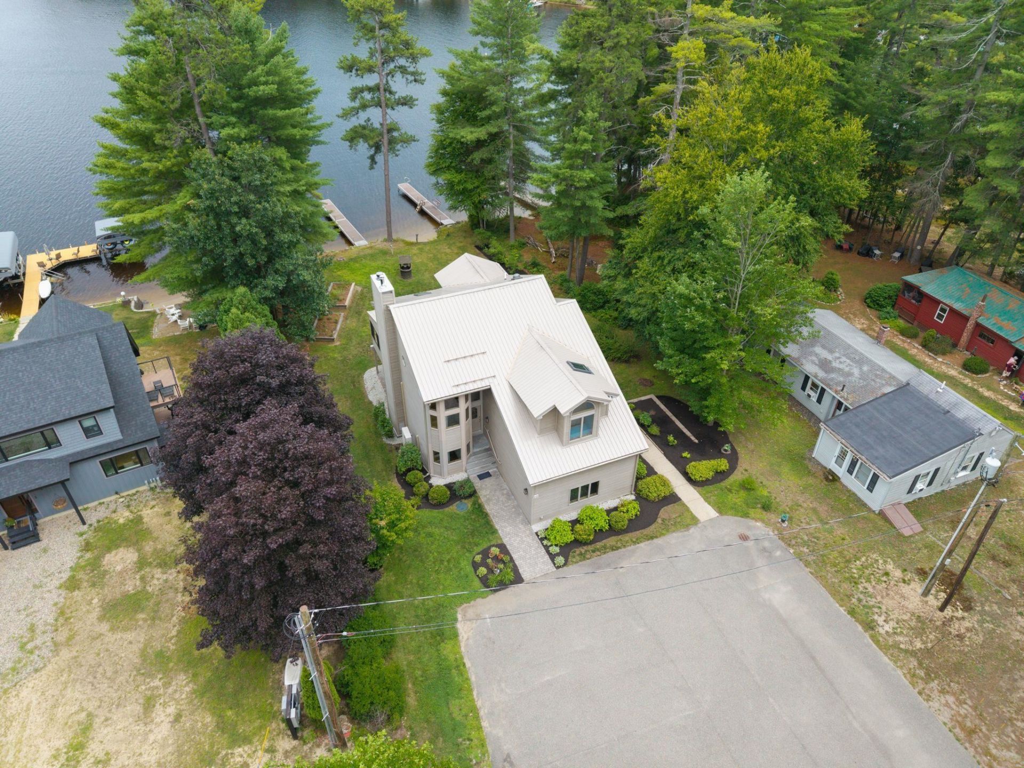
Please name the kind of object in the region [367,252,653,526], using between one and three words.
house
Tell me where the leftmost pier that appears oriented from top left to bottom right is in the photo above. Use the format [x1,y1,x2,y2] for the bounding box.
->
[319,195,368,245]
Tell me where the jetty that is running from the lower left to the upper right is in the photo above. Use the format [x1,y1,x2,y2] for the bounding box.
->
[15,239,100,319]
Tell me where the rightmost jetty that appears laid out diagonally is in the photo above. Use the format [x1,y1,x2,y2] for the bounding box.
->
[397,179,455,225]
